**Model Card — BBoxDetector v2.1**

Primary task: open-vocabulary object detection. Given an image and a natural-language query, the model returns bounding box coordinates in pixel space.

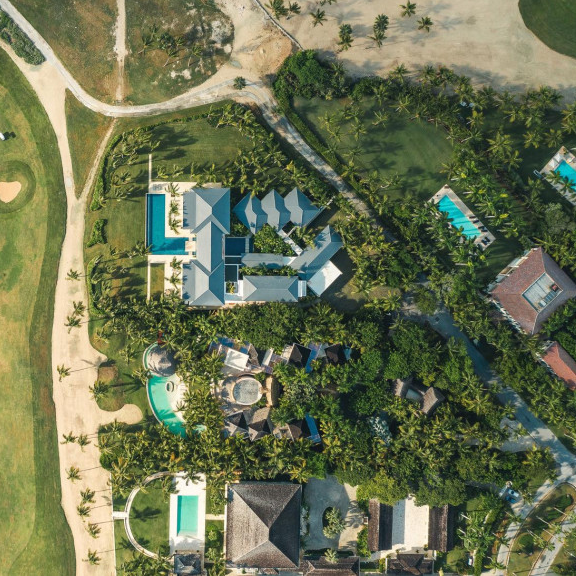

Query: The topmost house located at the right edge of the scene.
[486,248,576,335]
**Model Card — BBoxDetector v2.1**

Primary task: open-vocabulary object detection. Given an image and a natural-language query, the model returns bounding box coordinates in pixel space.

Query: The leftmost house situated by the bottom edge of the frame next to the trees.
[223,477,360,576]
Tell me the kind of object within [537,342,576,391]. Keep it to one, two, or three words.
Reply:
house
